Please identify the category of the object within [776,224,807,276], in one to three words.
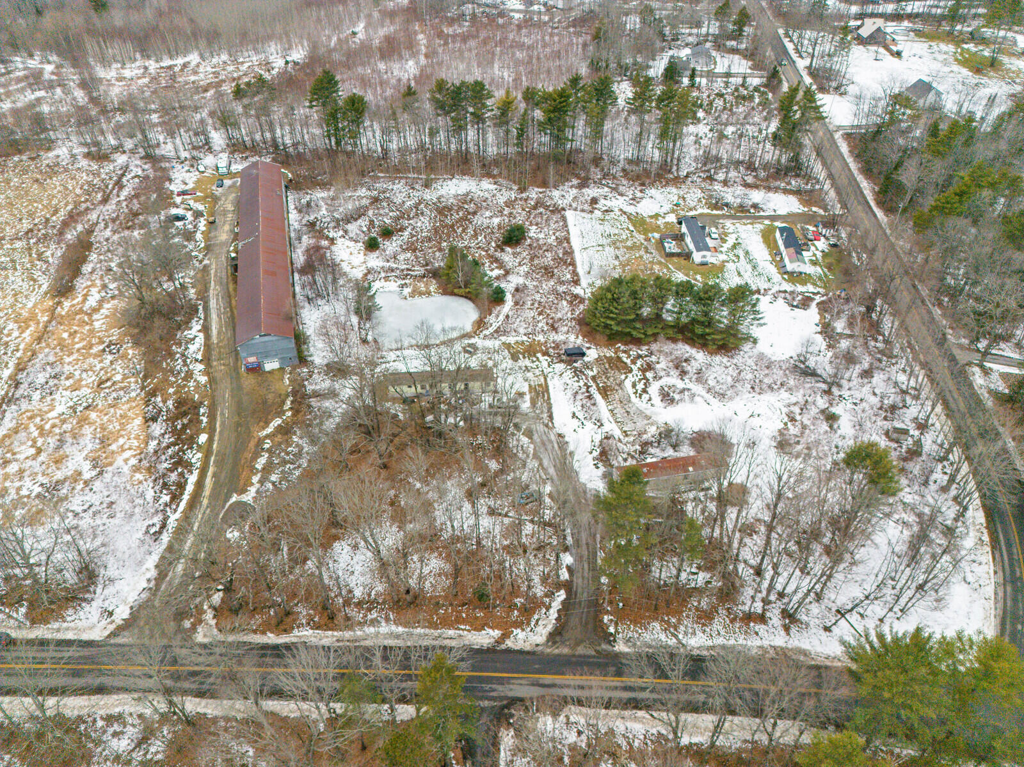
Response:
house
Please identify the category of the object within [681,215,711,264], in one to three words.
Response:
house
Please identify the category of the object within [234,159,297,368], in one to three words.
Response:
barn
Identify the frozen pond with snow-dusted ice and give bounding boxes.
[372,291,480,350]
